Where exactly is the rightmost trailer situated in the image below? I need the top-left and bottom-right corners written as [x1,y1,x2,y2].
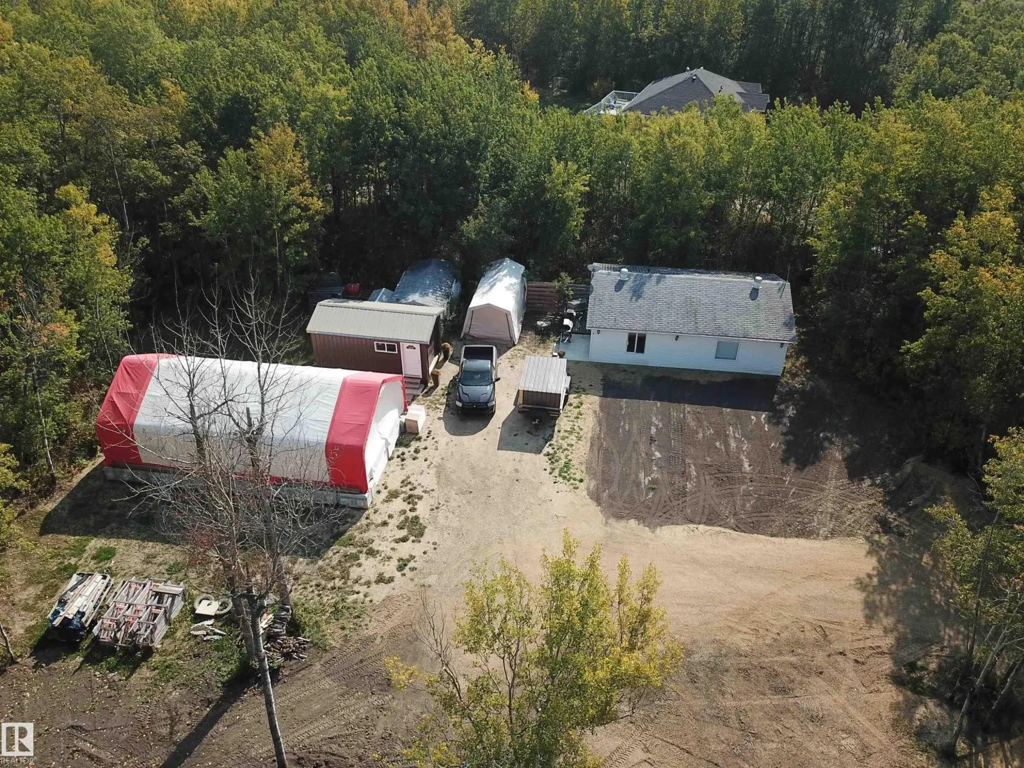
[519,355,574,433]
